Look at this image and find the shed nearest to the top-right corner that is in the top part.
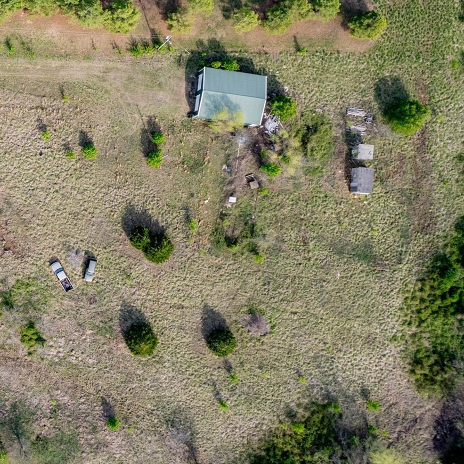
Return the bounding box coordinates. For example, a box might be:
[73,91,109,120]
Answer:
[345,144,373,160]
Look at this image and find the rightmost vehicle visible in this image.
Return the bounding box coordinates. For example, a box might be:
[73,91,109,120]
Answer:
[84,257,97,282]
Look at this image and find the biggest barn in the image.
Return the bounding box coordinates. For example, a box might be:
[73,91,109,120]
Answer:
[192,67,268,126]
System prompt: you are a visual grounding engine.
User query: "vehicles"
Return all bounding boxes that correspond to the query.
[50,261,74,293]
[84,257,97,282]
